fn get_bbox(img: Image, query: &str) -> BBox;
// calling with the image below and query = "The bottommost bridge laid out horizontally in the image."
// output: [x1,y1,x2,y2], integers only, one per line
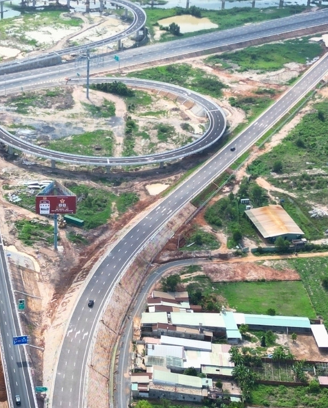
[0,93,225,173]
